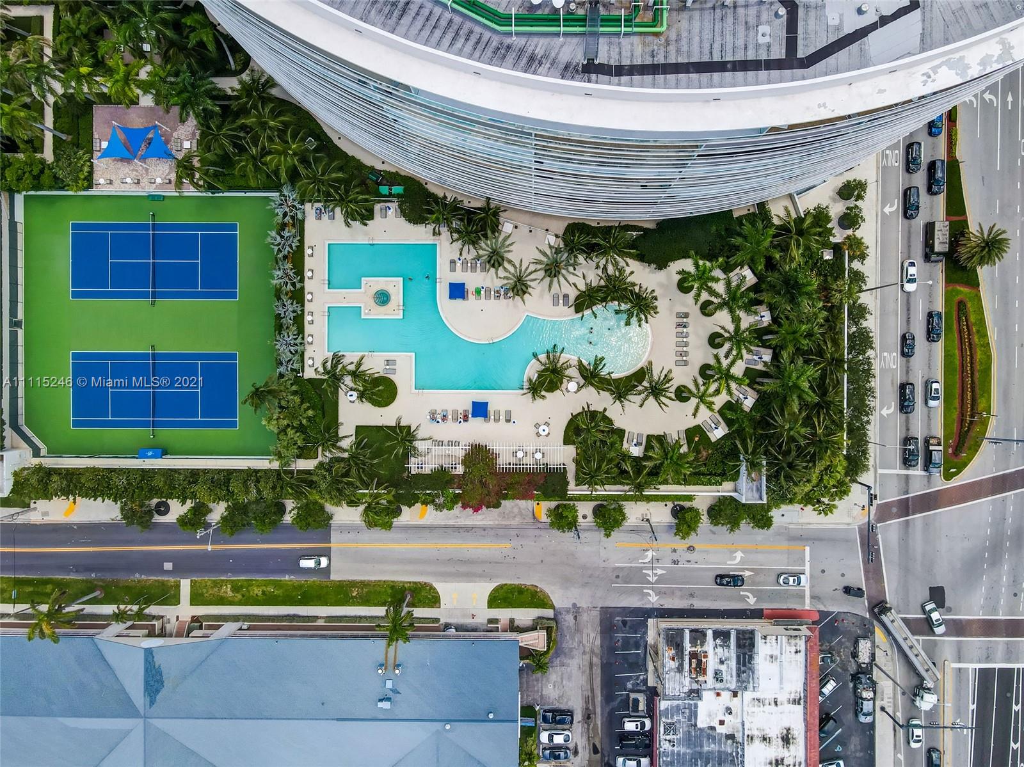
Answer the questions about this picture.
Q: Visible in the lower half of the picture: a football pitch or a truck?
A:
truck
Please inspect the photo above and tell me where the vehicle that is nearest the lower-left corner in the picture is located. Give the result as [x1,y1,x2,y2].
[298,555,329,570]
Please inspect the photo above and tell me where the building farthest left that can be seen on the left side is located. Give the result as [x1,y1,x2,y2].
[0,449,30,486]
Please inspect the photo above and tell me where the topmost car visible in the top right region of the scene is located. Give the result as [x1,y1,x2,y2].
[926,111,944,140]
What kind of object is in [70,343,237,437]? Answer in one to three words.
tennis court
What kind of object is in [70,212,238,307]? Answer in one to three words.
tennis court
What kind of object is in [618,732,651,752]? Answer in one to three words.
vehicle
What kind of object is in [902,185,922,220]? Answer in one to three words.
car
